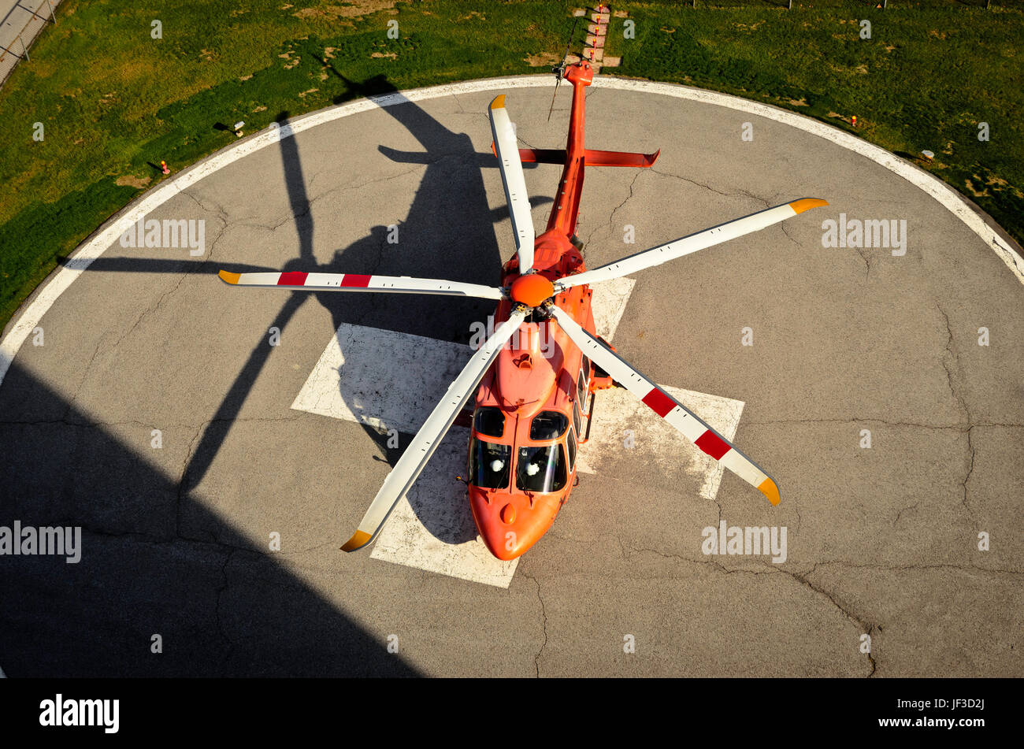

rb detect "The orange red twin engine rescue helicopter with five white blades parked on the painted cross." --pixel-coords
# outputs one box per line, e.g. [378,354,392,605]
[219,17,824,562]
